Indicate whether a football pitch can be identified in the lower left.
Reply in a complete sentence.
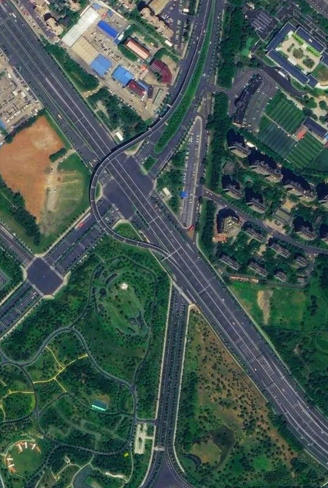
No, there's no football pitch to be seen in the lower left.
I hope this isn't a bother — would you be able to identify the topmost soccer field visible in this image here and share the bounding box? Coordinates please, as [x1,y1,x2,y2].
[265,97,305,135]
